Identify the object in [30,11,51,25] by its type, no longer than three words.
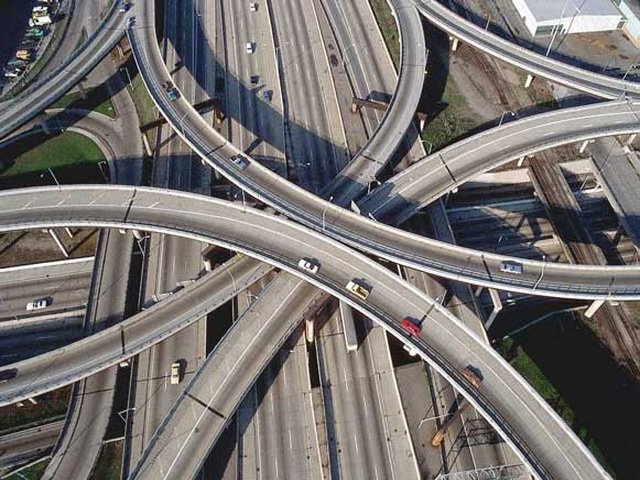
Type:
vehicle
